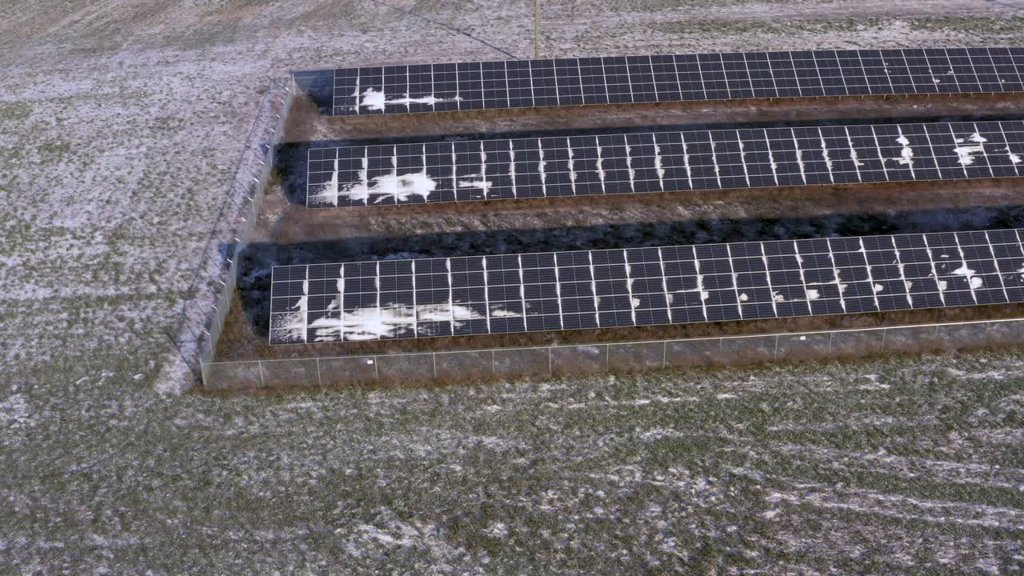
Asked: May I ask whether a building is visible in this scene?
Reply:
No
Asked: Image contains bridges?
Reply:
No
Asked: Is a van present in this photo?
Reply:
No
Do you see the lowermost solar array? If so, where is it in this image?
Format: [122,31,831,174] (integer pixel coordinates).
[268,229,1024,346]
